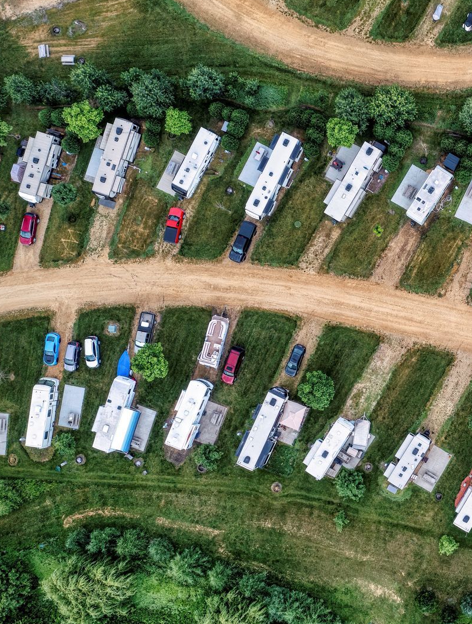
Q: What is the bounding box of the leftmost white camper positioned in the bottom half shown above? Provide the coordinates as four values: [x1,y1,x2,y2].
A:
[26,378,64,448]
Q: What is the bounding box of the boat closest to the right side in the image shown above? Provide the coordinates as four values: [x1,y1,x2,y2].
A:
[198,310,228,369]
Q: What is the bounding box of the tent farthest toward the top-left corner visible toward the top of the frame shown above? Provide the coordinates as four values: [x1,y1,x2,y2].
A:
[6,162,27,182]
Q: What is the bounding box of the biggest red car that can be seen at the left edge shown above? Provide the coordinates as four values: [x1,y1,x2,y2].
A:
[19,214,39,245]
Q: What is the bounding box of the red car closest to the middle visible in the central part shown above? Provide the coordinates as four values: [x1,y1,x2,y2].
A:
[222,347,245,385]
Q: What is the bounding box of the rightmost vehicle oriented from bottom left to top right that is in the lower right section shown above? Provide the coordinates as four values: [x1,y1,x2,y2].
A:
[383,424,434,489]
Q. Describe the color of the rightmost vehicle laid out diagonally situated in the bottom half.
white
